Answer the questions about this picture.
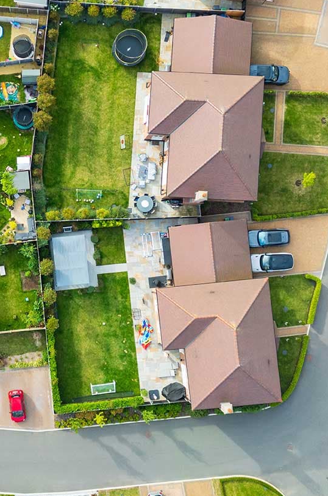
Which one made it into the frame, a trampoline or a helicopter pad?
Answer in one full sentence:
I can see a trampoline in this picture.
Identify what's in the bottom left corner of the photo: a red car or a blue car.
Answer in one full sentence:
The feature located in the bottom left corner of the photo is a red car.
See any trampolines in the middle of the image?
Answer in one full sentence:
No, in the middle of the image there is no trampoline.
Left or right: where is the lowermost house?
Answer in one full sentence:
The lowermost house is on the right side of the image.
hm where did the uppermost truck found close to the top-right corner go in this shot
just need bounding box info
[250,62,290,83]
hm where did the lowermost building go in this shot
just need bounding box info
[154,277,282,410]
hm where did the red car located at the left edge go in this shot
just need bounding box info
[8,389,26,422]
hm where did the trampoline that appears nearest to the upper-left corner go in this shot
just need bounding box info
[13,32,33,56]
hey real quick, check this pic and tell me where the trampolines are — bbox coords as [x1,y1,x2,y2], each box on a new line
[13,32,33,56]
[13,104,34,127]
[114,27,149,64]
